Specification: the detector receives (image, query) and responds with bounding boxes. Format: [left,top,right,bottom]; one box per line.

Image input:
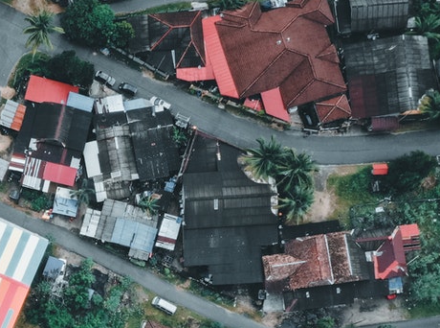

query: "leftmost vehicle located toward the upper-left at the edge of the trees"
[92,69,118,87]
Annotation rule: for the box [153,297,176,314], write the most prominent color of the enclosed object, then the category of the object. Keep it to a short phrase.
white vehicle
